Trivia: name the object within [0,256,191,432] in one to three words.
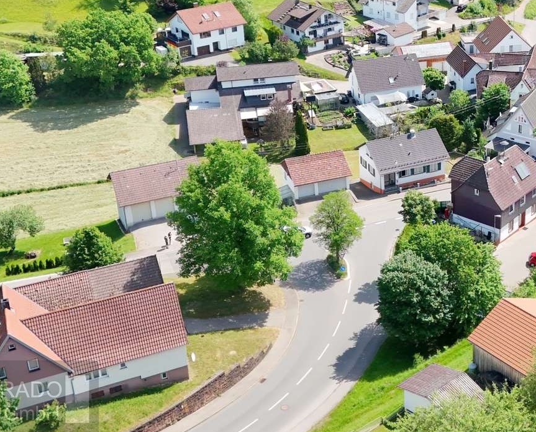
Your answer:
house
